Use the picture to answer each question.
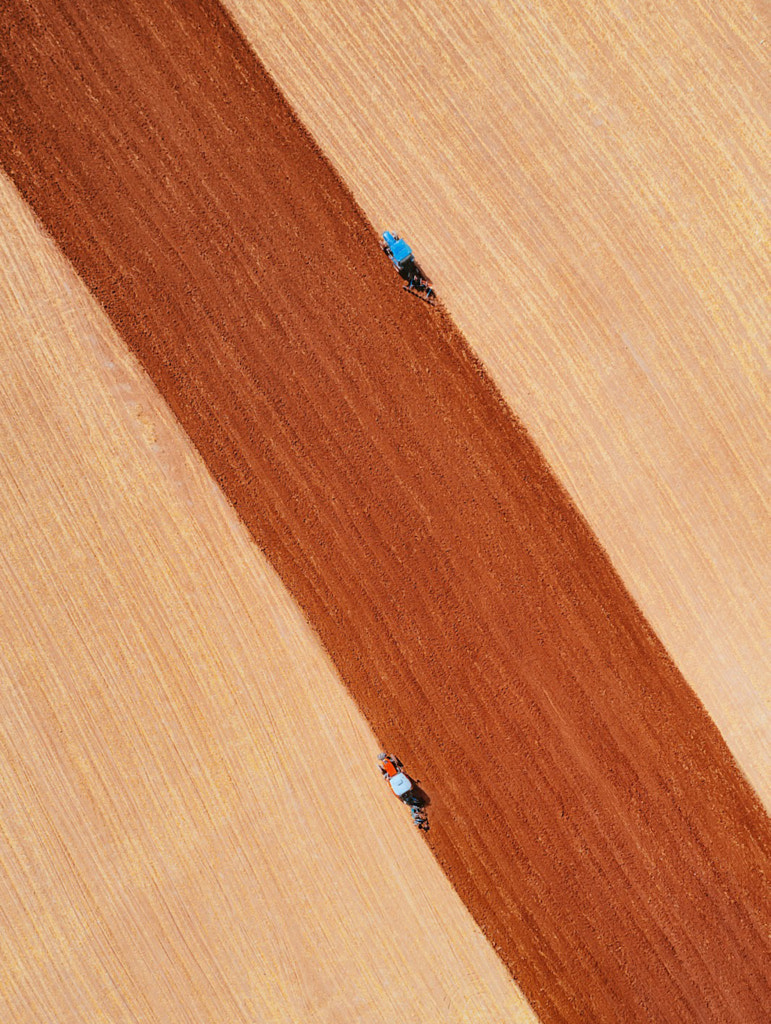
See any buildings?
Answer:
No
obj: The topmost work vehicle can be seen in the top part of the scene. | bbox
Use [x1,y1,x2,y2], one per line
[378,231,414,273]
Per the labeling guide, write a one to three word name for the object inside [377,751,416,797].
work vehicle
